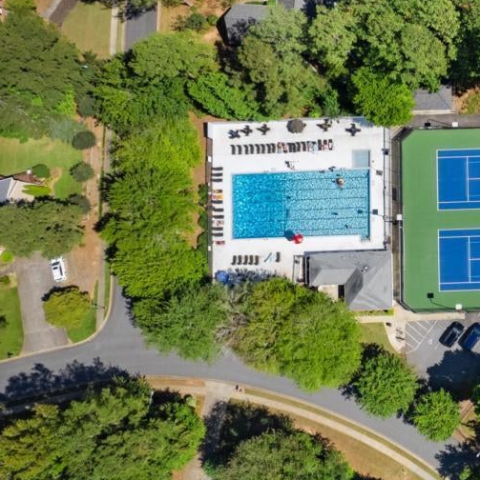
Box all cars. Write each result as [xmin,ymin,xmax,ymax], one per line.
[48,255,68,285]
[442,320,465,350]
[462,322,480,352]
